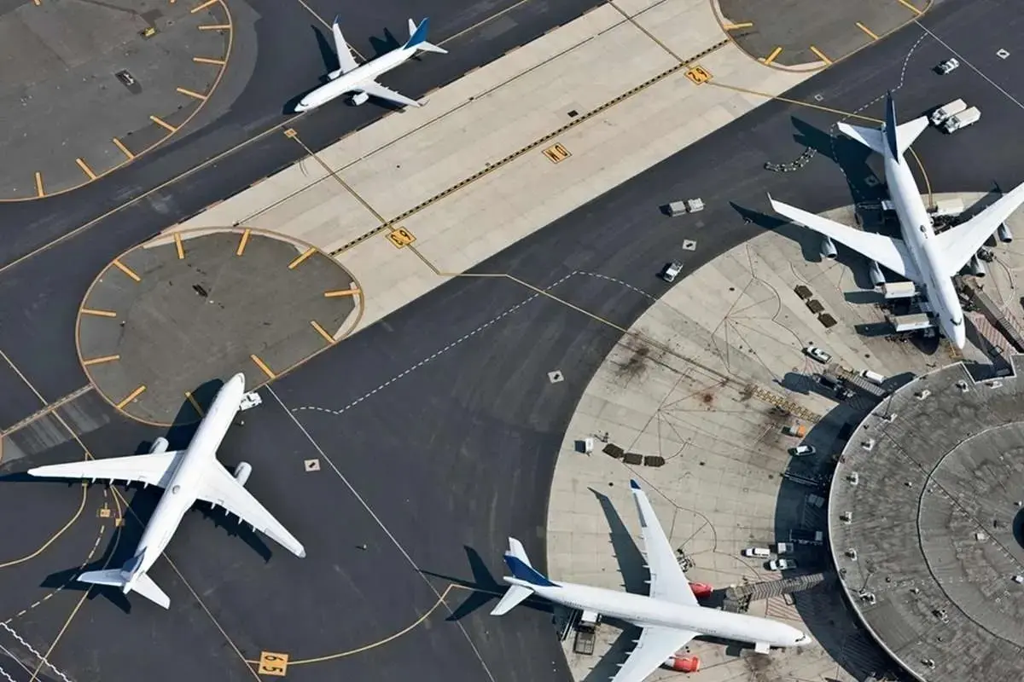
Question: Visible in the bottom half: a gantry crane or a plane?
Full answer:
The one visible in the bottom half is a plane.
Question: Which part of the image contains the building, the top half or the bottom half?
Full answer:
It is in the bottom half that the building appears.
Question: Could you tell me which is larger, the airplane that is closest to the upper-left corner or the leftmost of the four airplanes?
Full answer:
Of the two, the leftmost of the four airplanes is larger and the airplane that is closest to the upper-left corner is the smaller one.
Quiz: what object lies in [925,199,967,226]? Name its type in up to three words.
truck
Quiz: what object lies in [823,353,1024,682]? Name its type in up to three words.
building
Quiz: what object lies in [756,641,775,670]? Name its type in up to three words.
vehicle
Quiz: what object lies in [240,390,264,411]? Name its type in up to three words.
work vehicle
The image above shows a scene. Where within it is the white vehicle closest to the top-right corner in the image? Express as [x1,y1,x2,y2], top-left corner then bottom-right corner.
[941,59,961,72]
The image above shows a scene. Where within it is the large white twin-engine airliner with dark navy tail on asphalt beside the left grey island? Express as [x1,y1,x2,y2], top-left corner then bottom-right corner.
[29,375,303,609]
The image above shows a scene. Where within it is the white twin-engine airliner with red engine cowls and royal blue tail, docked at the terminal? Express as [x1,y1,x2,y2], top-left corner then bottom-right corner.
[490,478,811,682]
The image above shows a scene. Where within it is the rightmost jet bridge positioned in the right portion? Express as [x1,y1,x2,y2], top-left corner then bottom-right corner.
[950,276,1024,353]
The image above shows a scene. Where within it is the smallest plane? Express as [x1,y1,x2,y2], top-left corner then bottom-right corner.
[295,13,445,115]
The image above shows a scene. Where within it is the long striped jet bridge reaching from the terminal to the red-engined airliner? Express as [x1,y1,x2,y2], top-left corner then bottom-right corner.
[723,573,838,614]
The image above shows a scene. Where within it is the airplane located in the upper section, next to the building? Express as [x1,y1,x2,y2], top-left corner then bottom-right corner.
[768,89,1024,352]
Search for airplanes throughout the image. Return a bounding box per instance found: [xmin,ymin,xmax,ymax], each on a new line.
[768,89,1024,352]
[295,13,445,115]
[490,478,811,682]
[29,375,303,609]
